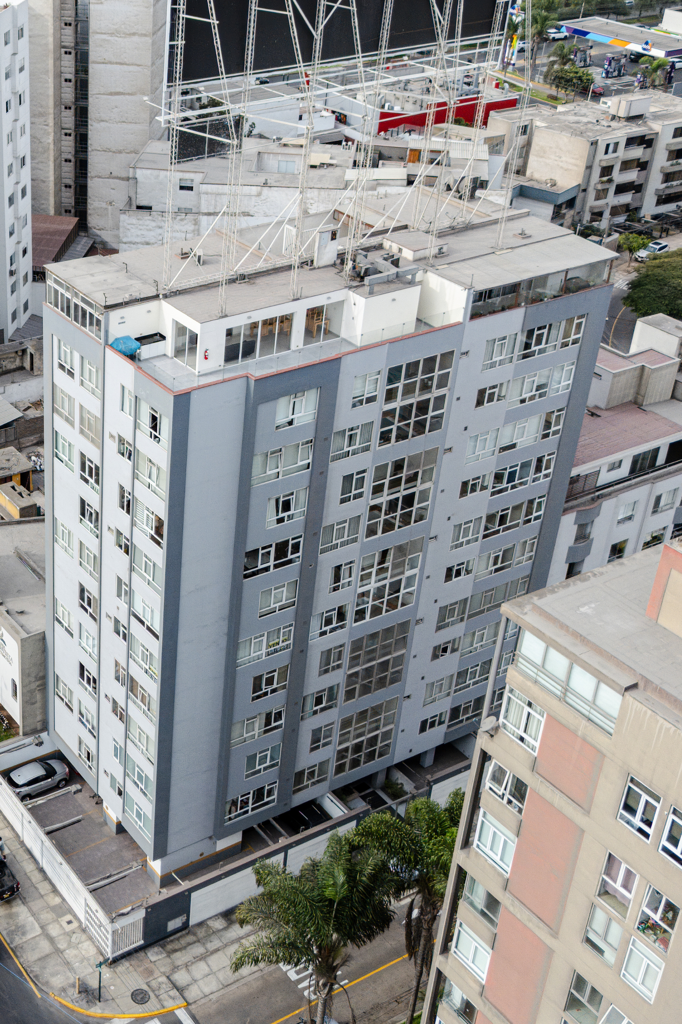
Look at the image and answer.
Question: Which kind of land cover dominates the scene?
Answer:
buildings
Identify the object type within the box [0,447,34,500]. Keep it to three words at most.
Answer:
house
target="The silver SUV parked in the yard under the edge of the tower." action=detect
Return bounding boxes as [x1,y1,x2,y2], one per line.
[6,757,73,801]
